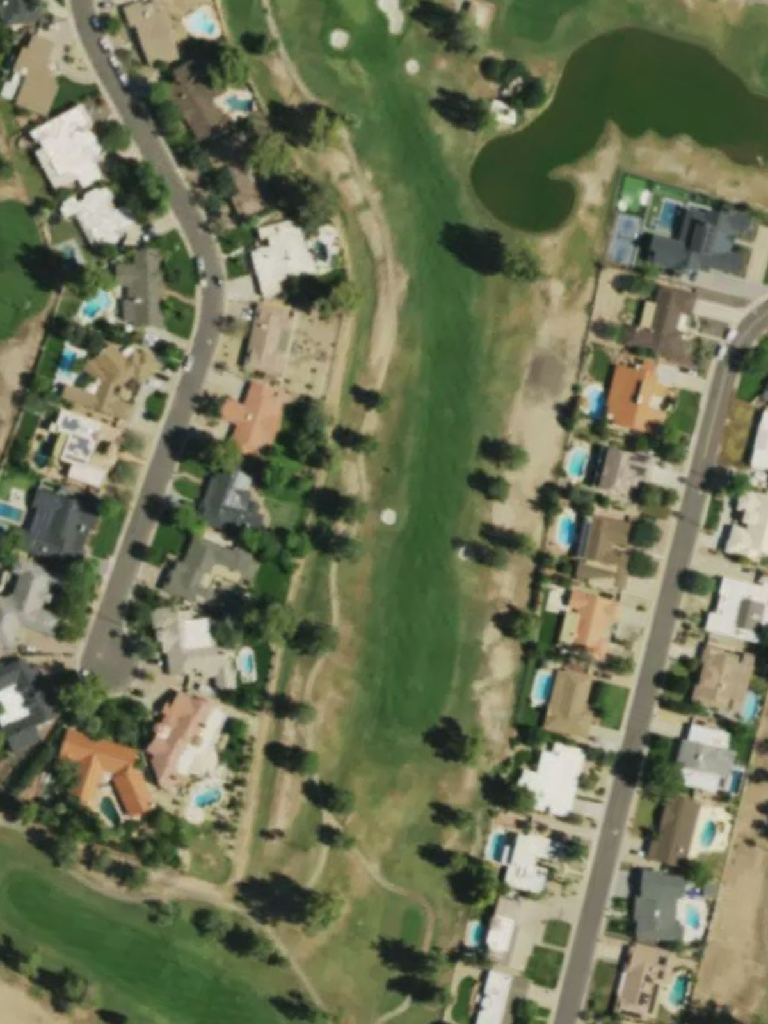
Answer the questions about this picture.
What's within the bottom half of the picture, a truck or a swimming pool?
swimming pool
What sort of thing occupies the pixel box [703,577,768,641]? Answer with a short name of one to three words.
house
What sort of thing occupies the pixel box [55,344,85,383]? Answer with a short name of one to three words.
swimming pool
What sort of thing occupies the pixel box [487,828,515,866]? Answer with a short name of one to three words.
swimming pool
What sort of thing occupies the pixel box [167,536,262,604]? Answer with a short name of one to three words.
house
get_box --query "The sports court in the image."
[608,214,642,264]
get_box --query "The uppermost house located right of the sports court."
[648,207,757,274]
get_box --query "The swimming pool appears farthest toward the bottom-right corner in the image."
[665,970,692,1013]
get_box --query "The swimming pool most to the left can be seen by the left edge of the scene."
[0,488,26,523]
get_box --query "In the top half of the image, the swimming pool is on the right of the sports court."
[657,197,686,234]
